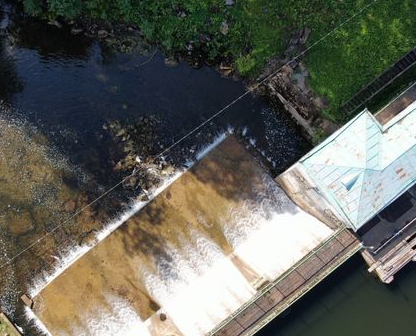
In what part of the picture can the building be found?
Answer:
right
